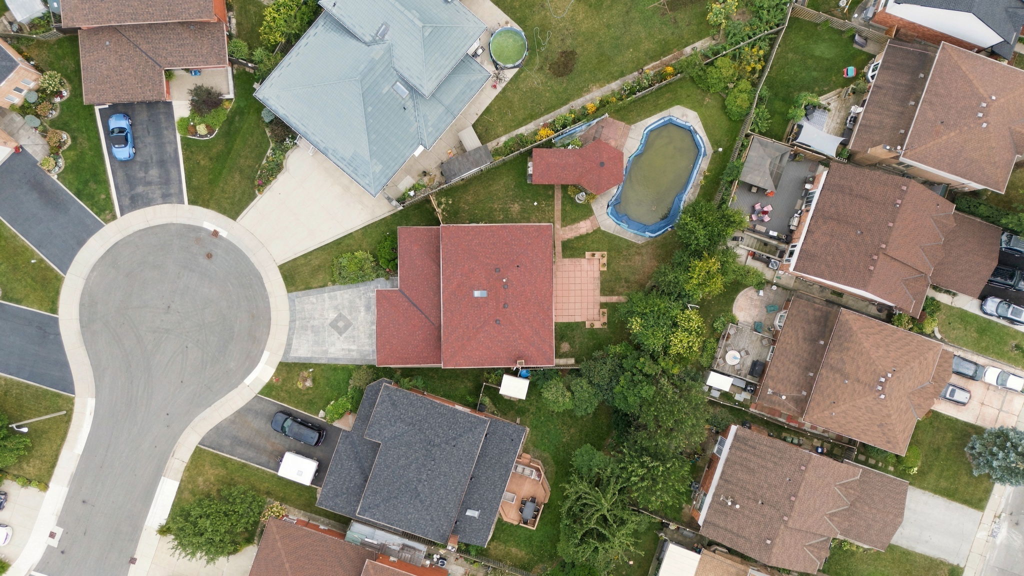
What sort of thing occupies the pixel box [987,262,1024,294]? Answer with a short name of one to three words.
truck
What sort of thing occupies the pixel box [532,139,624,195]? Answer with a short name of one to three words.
building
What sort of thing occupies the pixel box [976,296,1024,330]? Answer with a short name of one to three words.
car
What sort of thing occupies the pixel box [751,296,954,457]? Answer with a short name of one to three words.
house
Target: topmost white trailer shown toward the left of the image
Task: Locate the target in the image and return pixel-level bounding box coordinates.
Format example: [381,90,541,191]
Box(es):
[277,451,320,486]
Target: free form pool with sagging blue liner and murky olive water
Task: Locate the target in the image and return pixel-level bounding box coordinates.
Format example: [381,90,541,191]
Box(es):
[607,100,705,238]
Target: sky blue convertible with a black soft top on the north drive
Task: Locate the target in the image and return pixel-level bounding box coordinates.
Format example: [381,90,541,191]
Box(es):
[108,115,137,161]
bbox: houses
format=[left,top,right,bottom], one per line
[250,508,456,576]
[751,296,954,457]
[776,159,1003,318]
[315,378,527,555]
[253,0,492,198]
[58,0,235,108]
[841,38,1024,196]
[690,421,910,575]
[375,223,556,369]
[0,37,40,171]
